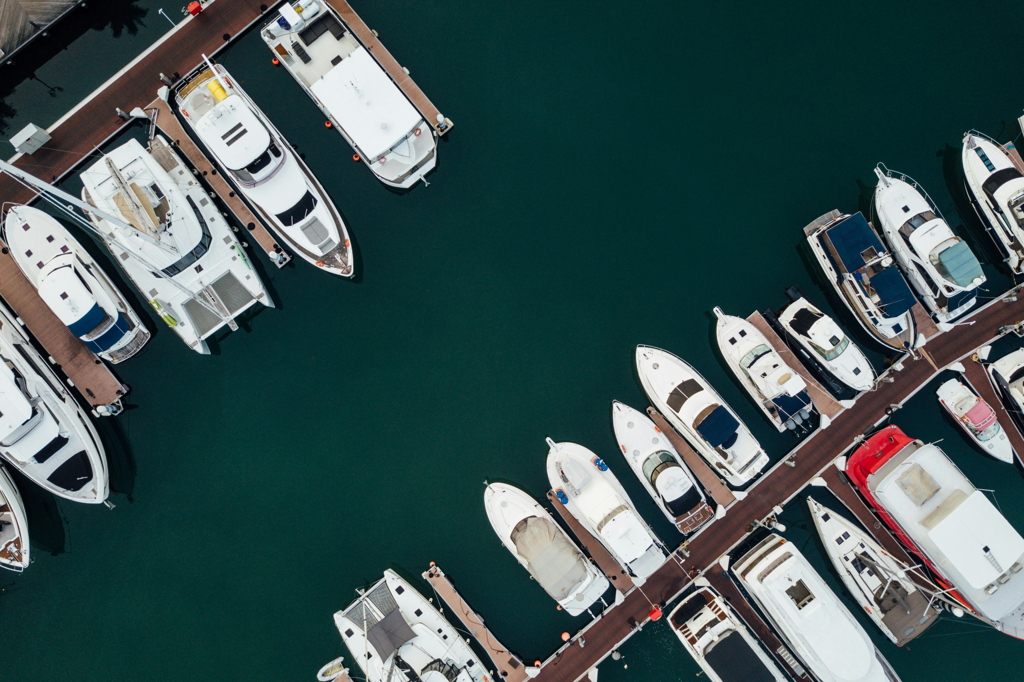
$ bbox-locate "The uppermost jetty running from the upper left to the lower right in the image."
[326,0,455,138]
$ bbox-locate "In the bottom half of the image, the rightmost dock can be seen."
[944,345,1024,480]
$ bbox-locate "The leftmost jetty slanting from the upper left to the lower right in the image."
[0,236,130,416]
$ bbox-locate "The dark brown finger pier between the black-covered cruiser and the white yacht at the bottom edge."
[693,554,812,682]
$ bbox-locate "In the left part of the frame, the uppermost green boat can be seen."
[234,242,252,270]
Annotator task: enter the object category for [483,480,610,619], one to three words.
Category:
boat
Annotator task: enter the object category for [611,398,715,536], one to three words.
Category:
boat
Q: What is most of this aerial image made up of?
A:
water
